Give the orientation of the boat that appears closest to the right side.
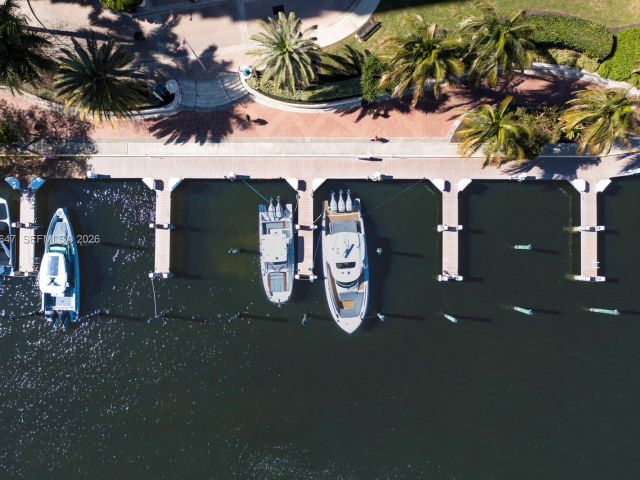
up and down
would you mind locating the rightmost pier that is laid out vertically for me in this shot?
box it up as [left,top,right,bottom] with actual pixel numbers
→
[566,180,610,282]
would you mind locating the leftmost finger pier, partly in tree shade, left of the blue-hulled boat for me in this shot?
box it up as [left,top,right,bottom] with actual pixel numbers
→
[8,179,47,274]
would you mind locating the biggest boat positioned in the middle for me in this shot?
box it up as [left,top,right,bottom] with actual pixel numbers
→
[322,189,368,336]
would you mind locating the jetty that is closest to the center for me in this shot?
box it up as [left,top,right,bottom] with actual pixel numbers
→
[285,179,326,281]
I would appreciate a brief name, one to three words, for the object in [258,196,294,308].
boat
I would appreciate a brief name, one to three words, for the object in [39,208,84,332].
boat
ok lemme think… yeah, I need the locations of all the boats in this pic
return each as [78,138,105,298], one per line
[0,199,19,285]
[39,208,84,332]
[258,196,294,308]
[322,189,368,336]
